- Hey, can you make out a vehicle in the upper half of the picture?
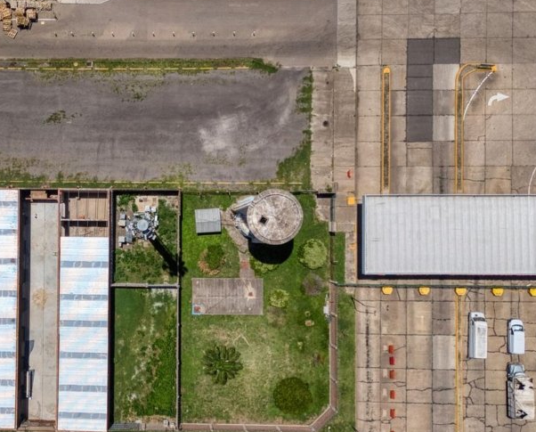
No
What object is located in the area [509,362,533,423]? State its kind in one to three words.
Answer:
truck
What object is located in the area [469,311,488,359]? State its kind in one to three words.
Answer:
vehicle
